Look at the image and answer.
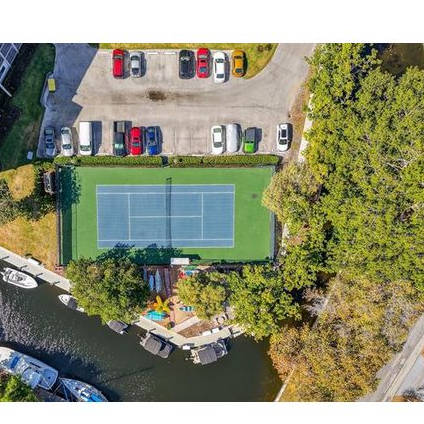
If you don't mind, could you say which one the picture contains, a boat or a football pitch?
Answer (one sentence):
The image shows a boat.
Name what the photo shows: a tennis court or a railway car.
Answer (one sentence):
I can see a tennis court in this picture.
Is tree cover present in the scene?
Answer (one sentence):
Yes, there's tree cover in this view.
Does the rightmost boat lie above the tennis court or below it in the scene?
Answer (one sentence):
Relative to the tennis court, the rightmost boat lies below it.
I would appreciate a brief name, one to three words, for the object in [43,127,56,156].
vehicle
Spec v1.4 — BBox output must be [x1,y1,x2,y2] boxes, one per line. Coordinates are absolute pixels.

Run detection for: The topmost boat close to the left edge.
[0,263,38,289]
